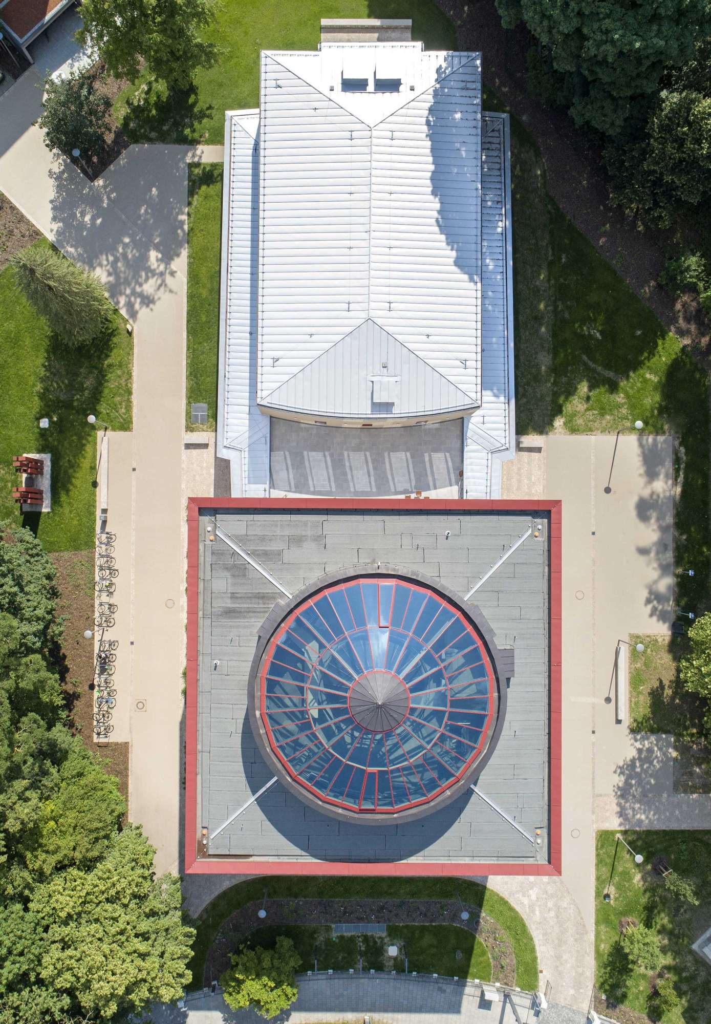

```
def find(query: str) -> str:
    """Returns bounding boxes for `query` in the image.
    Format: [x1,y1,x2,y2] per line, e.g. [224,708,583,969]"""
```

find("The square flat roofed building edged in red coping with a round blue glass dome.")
[185,497,562,874]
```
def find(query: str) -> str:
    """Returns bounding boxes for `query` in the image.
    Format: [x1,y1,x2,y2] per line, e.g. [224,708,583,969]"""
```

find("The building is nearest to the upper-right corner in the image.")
[217,42,514,500]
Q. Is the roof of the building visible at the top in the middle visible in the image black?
No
